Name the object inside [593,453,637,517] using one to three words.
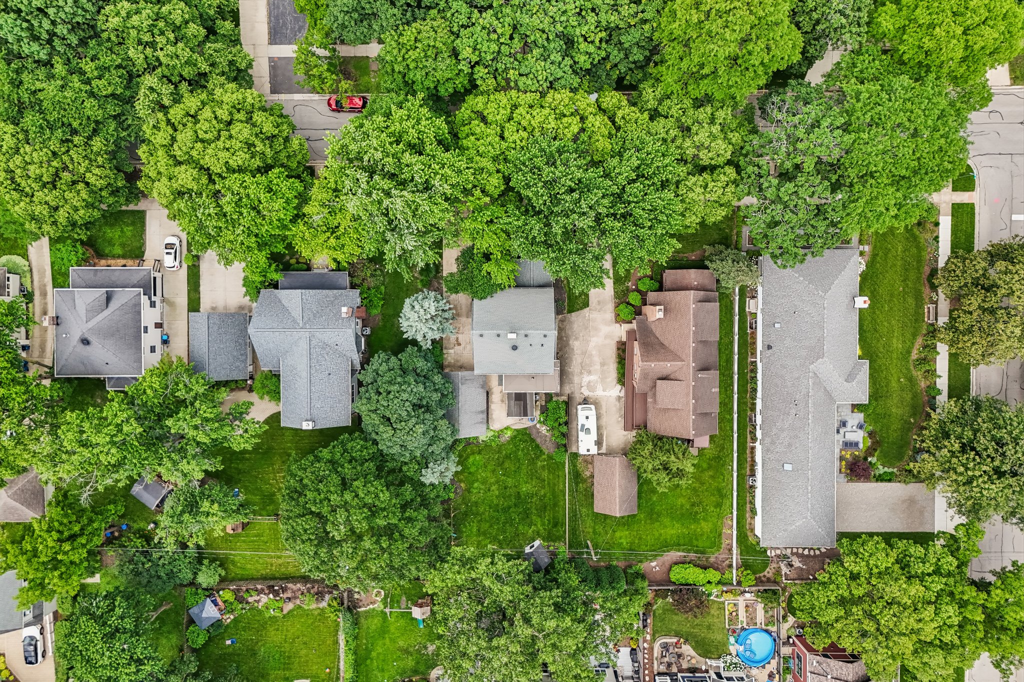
shed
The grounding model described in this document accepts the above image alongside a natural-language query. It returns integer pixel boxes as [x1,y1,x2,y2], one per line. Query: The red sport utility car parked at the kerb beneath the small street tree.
[329,97,367,115]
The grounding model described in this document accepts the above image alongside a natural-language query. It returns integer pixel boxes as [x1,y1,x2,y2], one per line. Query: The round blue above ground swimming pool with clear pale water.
[731,627,780,668]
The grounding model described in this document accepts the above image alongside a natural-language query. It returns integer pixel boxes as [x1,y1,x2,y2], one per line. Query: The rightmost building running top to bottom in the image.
[754,250,870,547]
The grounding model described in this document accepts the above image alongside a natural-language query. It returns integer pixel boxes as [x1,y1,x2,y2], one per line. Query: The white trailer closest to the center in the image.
[577,395,599,457]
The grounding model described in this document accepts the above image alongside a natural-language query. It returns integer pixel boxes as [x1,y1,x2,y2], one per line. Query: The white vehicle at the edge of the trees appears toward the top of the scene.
[162,237,183,271]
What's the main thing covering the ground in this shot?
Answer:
trees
